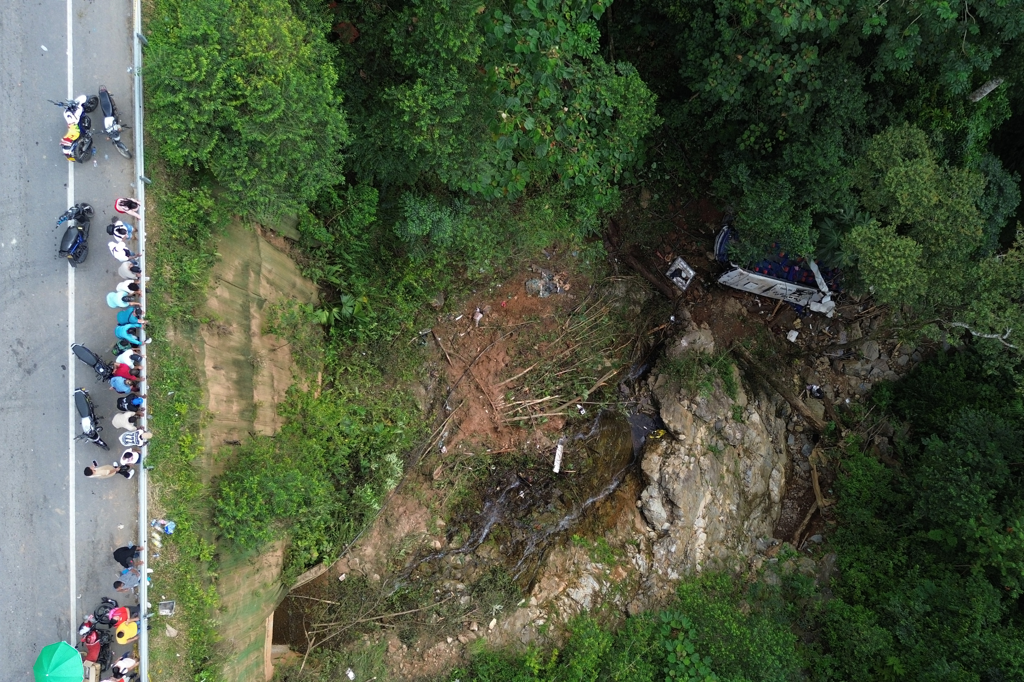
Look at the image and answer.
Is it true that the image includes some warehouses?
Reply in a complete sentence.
No, the scene contains no warehouse.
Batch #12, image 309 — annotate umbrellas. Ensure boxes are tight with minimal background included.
[32,639,86,682]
